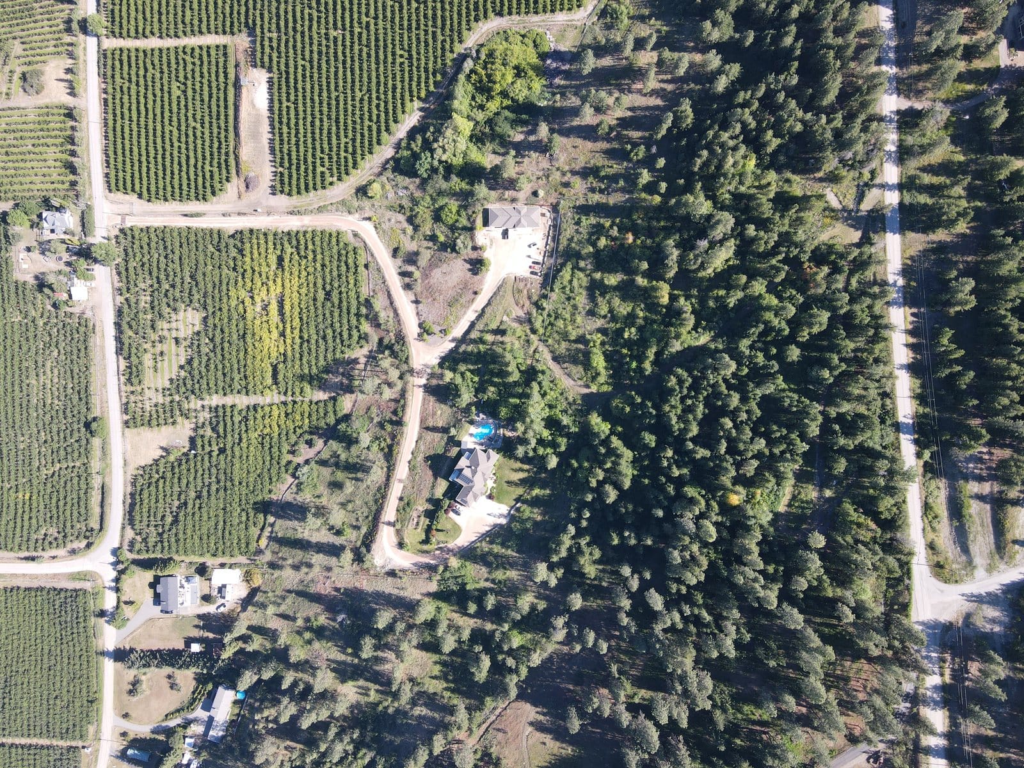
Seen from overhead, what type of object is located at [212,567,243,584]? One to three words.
building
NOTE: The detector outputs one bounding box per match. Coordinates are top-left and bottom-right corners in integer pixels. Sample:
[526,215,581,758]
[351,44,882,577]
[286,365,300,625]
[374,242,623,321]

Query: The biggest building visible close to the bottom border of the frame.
[207,682,238,742]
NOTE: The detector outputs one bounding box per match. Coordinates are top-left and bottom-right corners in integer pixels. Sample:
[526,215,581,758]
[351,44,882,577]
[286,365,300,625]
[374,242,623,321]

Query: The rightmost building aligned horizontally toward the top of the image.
[489,207,540,228]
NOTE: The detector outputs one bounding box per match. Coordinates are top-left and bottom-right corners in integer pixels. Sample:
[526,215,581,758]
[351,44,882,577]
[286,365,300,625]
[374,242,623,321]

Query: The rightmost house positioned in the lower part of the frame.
[449,447,500,507]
